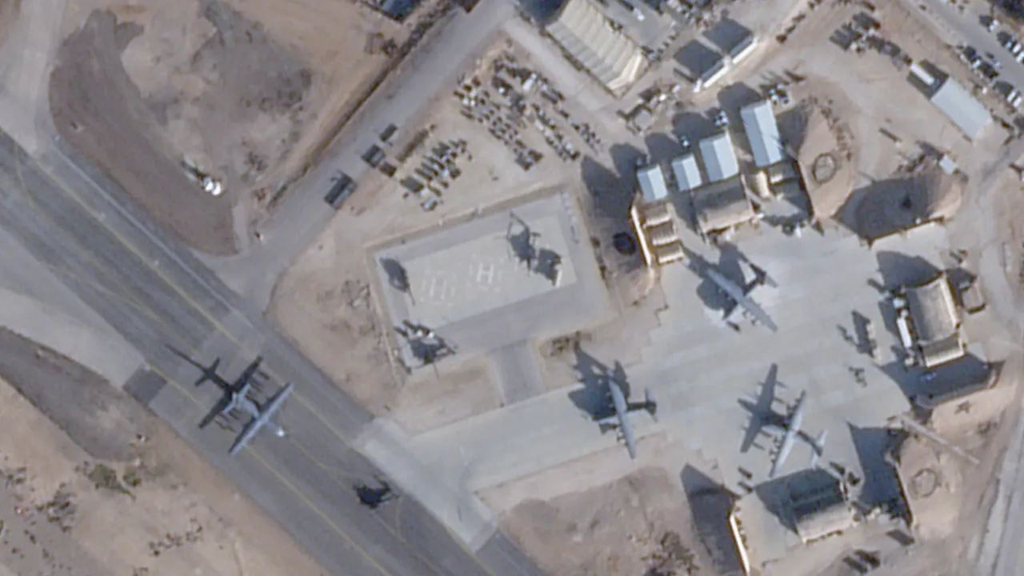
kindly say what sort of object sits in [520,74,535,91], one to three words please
vehicle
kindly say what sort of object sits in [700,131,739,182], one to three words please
shed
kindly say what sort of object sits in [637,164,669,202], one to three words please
shed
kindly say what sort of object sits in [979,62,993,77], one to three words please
vehicle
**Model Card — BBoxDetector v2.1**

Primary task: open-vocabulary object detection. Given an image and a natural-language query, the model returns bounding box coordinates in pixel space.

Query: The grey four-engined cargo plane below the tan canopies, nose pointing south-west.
[705,257,781,331]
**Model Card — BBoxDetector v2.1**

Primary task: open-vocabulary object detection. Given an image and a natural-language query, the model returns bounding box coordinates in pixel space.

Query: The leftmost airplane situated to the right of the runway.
[596,368,664,459]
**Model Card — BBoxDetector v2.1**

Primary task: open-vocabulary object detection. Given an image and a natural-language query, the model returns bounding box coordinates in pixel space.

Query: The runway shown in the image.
[0,131,548,576]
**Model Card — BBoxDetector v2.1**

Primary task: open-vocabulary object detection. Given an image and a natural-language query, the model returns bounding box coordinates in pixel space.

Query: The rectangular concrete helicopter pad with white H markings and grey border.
[376,192,613,405]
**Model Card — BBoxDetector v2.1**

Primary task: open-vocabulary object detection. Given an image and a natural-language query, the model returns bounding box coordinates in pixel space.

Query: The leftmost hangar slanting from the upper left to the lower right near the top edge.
[544,0,643,96]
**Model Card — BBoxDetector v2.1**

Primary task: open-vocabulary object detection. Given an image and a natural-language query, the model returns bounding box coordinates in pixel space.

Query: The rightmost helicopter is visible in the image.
[510,230,550,276]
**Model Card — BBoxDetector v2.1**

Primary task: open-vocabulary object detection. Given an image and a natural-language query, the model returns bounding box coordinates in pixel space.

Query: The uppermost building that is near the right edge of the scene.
[932,78,991,140]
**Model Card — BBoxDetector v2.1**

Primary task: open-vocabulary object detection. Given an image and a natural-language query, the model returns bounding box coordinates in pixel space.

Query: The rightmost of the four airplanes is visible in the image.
[763,389,831,477]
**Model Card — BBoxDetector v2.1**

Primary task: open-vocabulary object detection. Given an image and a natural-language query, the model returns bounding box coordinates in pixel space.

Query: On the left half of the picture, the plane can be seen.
[221,379,293,455]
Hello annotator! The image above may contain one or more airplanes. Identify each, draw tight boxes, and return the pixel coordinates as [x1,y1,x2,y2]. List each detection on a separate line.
[596,368,664,459]
[705,257,781,331]
[221,379,293,455]
[763,389,831,477]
